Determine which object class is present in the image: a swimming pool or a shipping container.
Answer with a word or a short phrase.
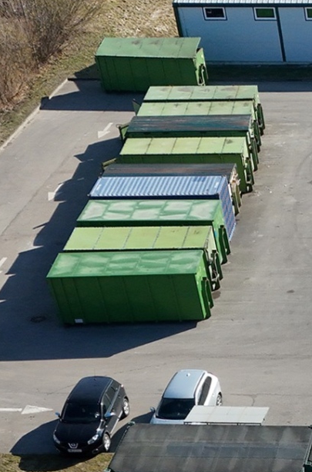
shipping container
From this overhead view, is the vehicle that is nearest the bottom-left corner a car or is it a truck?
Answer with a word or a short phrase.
car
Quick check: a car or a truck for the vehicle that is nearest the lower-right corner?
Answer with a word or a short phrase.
car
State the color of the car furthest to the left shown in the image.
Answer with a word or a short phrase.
black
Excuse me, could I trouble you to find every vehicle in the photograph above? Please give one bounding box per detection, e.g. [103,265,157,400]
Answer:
[51,369,130,457]
[147,366,217,426]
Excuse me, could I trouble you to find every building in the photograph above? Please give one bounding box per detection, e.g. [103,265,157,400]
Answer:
[103,410,312,472]
[171,0,312,61]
